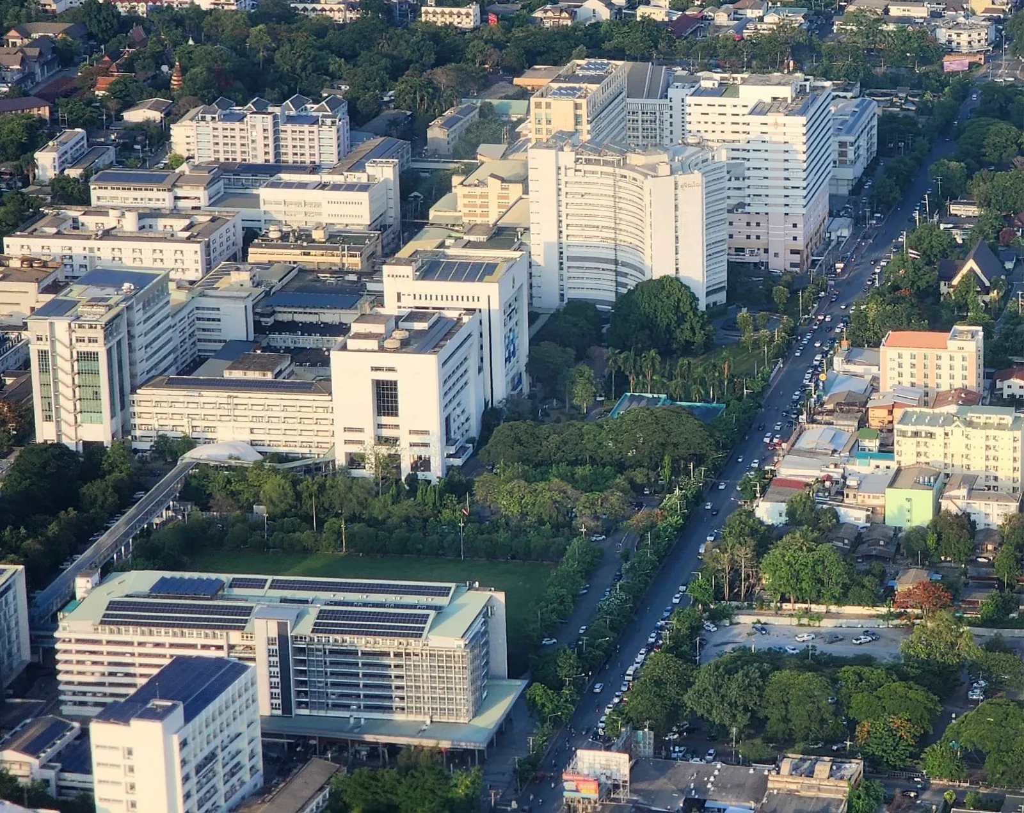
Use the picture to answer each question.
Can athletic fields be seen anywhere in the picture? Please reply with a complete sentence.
Yes, you can see an athletic field in this photo.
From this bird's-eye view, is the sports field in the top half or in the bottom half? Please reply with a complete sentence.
The bottom half of the photo is where the sports field is.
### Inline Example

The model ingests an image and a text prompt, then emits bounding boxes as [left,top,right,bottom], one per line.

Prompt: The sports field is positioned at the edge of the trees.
[185,550,571,674]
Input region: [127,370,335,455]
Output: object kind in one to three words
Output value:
building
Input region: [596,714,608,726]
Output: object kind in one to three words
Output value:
vehicle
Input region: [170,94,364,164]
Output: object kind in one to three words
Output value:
building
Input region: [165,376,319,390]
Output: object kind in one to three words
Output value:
solar array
